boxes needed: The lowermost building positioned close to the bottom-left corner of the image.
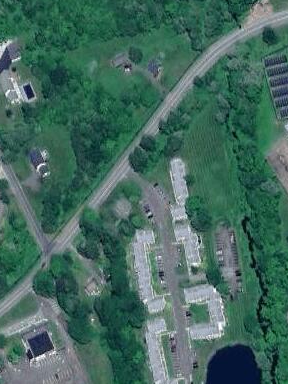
[22,326,59,365]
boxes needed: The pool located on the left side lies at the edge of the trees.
[22,81,35,101]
